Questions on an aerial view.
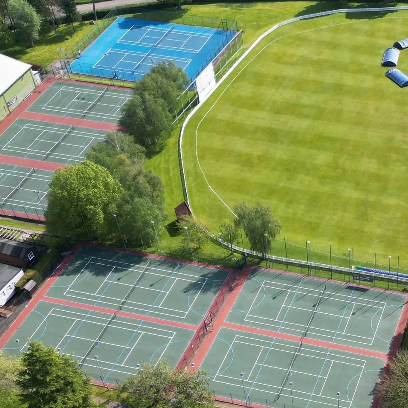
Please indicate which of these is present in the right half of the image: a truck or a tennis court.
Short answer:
tennis court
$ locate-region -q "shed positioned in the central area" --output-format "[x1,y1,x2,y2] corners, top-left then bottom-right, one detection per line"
[169,203,199,229]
